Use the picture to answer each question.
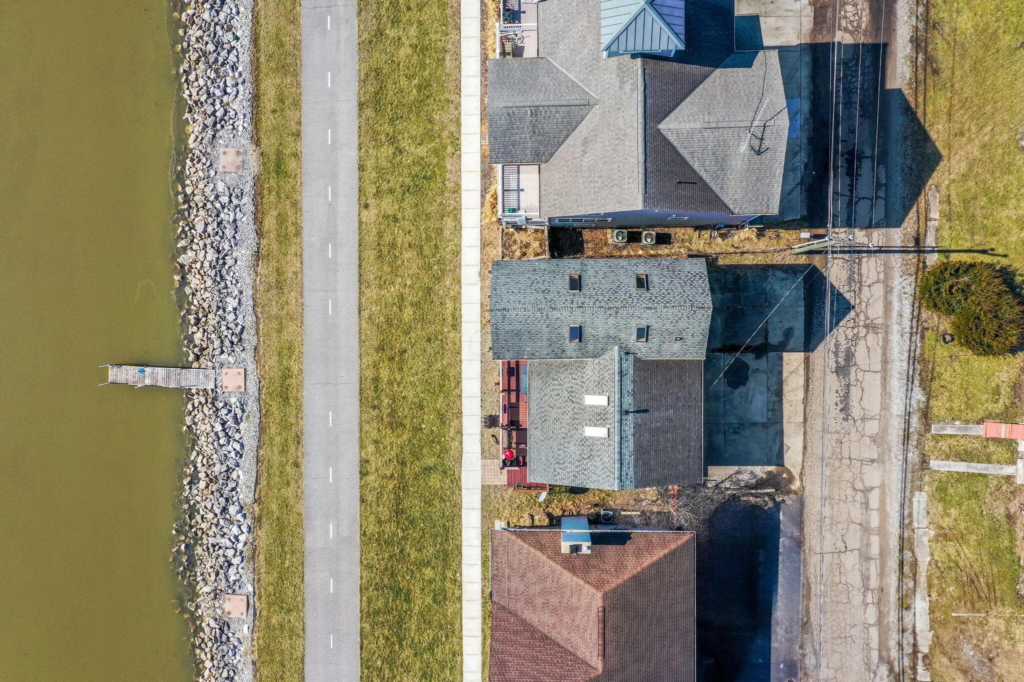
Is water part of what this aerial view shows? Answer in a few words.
Yes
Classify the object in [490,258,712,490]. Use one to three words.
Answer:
house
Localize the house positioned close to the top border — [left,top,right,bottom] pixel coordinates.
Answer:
[487,0,789,232]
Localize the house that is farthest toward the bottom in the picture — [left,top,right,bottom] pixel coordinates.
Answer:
[488,516,697,682]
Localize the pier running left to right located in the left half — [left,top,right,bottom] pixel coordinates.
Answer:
[102,364,215,393]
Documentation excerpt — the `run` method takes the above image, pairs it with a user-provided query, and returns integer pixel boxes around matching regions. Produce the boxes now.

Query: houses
[490,258,712,490]
[487,0,789,232]
[488,516,697,682]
